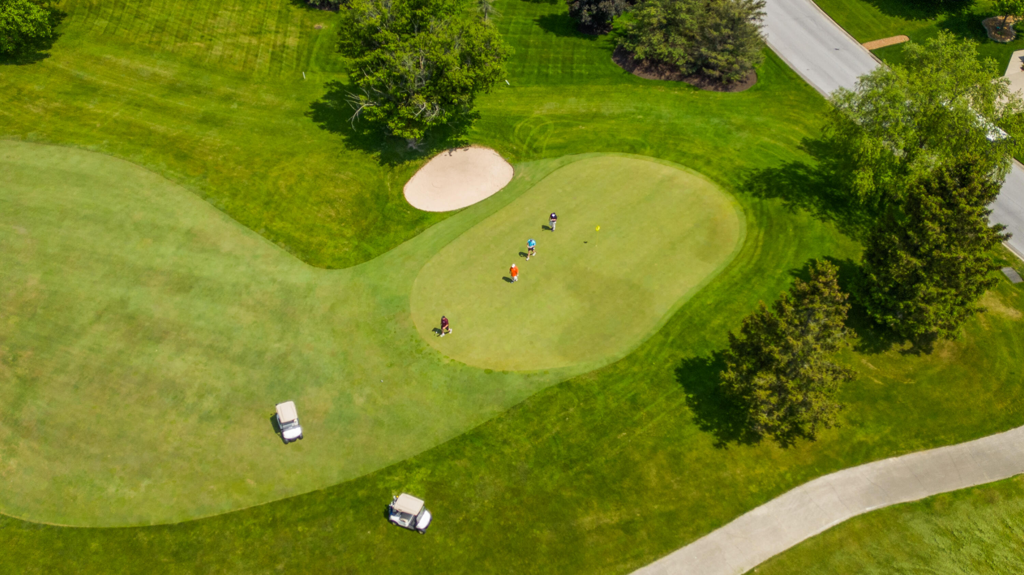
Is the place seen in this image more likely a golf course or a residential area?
golf course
